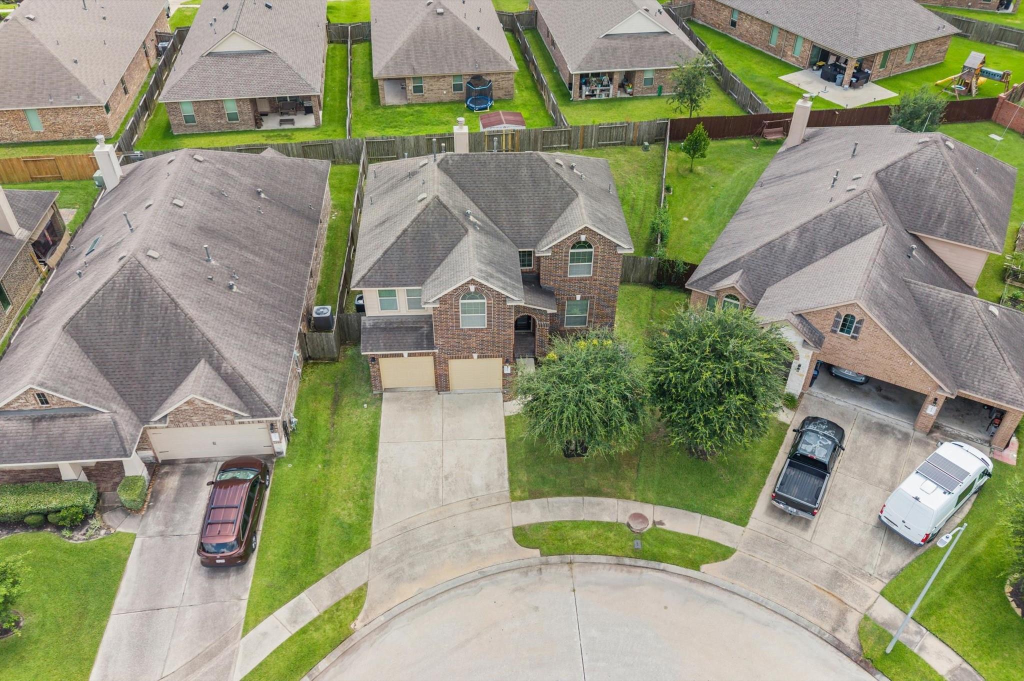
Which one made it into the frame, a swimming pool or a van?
van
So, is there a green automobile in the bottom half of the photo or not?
No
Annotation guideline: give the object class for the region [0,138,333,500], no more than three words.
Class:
house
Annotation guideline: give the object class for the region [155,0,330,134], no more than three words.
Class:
house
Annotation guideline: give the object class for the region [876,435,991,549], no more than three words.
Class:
van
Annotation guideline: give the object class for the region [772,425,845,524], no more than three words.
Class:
truck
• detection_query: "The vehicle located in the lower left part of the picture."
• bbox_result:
[199,454,272,567]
